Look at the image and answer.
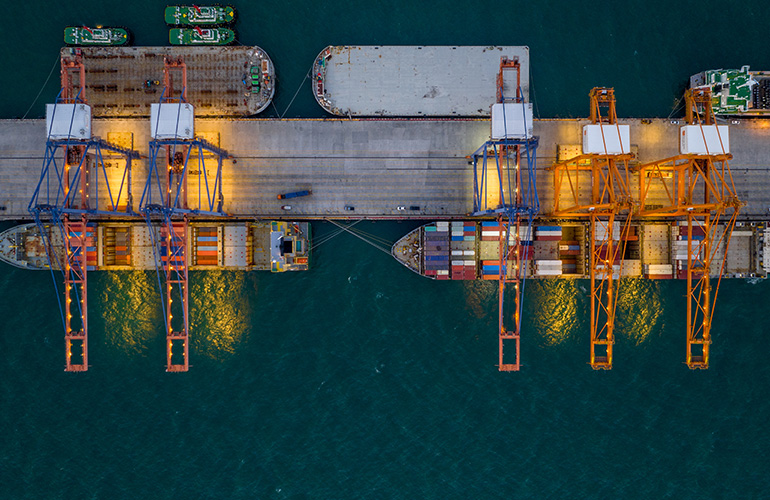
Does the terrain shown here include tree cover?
No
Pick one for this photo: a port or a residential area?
port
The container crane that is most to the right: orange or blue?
orange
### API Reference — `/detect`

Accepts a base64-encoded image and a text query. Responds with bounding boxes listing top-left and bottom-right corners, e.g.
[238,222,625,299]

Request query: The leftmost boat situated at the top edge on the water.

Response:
[62,23,132,47]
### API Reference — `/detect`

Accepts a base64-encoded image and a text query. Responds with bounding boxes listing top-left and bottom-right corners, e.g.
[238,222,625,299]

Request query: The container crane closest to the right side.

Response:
[632,80,750,373]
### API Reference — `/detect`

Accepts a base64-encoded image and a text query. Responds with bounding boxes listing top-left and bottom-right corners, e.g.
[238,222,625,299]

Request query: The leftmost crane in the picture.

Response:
[26,60,140,372]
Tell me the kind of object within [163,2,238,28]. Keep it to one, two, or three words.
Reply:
boat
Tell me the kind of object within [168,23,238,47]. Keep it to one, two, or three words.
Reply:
boat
